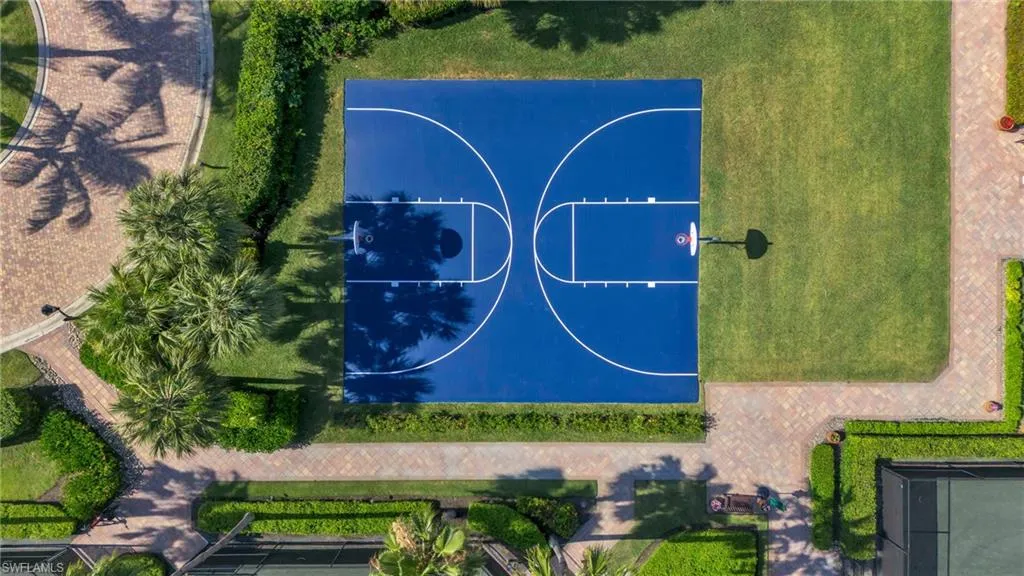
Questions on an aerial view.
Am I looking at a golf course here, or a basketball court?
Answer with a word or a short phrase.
basketball court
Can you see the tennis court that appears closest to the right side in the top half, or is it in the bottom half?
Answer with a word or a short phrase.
bottom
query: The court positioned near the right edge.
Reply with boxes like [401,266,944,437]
[887,463,1024,576]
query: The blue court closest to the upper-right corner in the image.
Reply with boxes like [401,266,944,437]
[344,79,702,404]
